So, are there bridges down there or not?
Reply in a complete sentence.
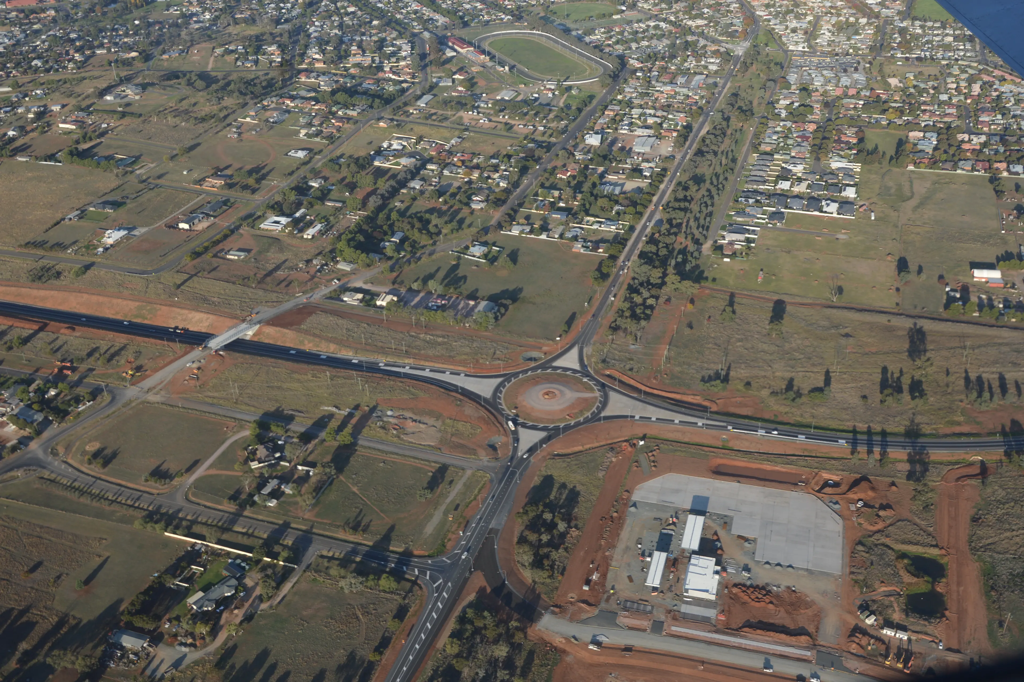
Yes, the frame does contain a bridge.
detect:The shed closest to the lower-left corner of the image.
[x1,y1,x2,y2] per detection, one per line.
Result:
[109,628,154,656]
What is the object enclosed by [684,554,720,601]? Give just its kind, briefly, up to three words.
building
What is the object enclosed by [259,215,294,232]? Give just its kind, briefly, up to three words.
house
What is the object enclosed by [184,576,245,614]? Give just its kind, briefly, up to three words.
house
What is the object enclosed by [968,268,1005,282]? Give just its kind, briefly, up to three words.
barn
